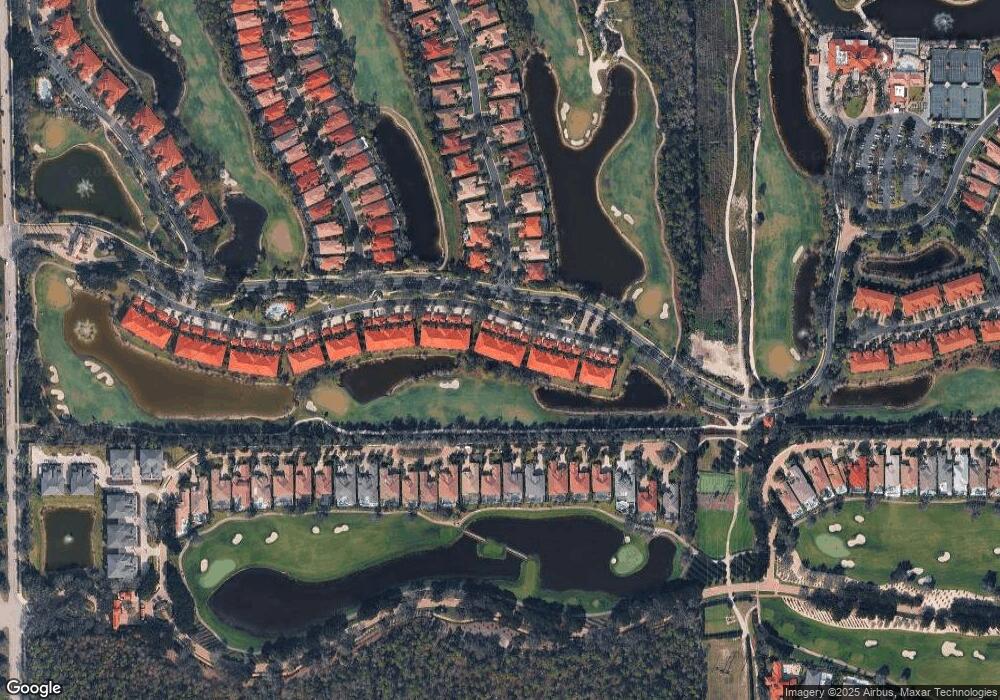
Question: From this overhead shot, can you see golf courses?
Yes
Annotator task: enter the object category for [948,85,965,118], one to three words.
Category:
tennis court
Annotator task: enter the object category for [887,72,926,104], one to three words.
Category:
building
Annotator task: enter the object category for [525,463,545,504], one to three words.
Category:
house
